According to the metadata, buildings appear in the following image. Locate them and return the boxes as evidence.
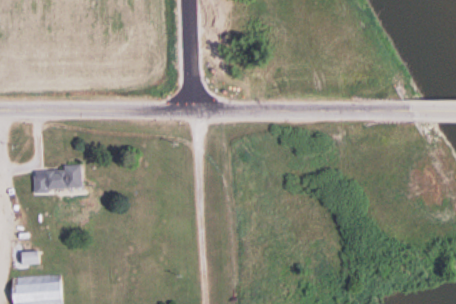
[12,276,62,304]
[32,164,89,201]
[20,251,40,266]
